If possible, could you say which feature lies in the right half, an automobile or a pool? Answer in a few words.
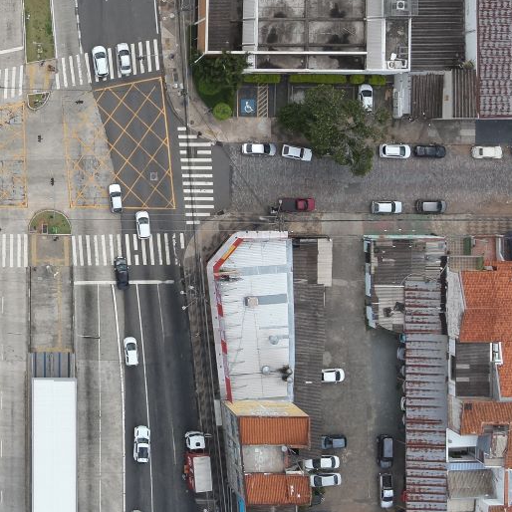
automobile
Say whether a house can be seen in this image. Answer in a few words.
Yes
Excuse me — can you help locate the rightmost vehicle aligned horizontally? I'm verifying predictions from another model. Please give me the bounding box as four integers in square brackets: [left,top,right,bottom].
[469,145,503,161]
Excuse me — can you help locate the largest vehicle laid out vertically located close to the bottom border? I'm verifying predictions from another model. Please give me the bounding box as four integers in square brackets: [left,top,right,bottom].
[183,429,209,495]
